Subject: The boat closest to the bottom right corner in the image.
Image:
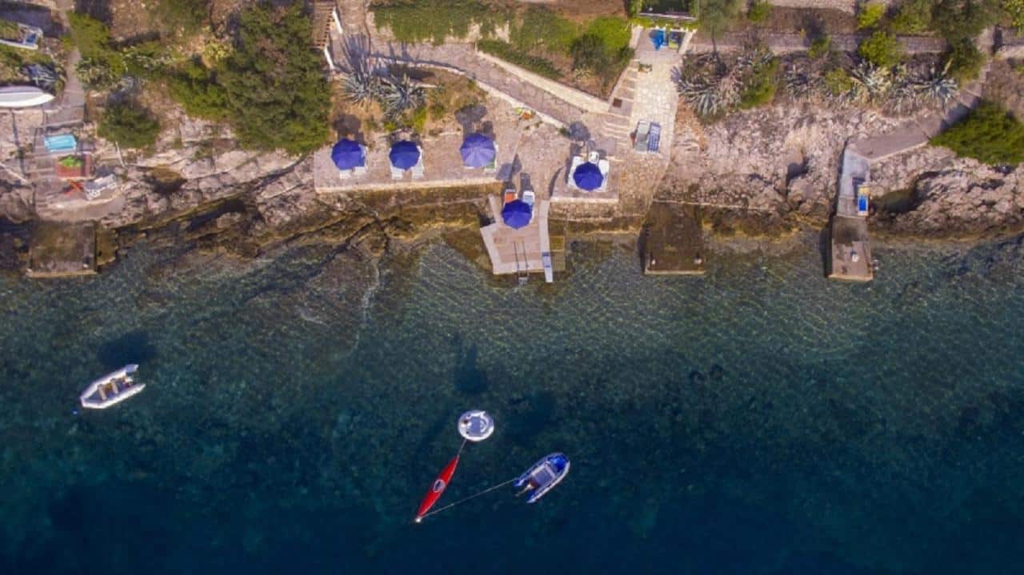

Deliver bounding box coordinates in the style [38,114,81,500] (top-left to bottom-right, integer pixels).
[514,450,572,503]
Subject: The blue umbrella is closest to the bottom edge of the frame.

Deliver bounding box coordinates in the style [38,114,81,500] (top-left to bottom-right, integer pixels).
[502,198,534,230]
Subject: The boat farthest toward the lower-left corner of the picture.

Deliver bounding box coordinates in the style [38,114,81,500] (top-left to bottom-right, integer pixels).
[78,365,145,411]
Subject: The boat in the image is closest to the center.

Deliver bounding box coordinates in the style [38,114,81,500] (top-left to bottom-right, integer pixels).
[457,408,496,443]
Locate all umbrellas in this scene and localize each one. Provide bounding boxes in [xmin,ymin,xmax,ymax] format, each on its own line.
[333,138,368,172]
[646,31,669,59]
[571,162,603,193]
[460,134,496,169]
[502,198,534,230]
[390,141,421,171]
